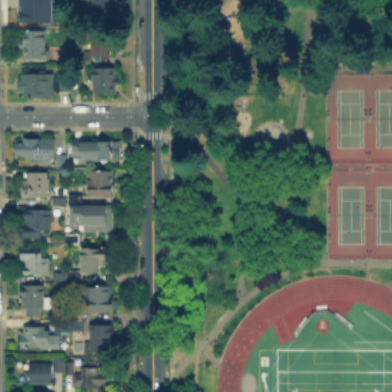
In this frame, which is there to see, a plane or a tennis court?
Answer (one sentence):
It is a tennis court that can be seen here.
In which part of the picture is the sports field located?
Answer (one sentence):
Look in the bottom right portion of the view to spot the sports field.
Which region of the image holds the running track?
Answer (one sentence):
The running track is in the bottom right part of the image.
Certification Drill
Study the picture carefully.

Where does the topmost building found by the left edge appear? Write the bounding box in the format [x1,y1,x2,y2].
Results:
[18,0,52,24]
